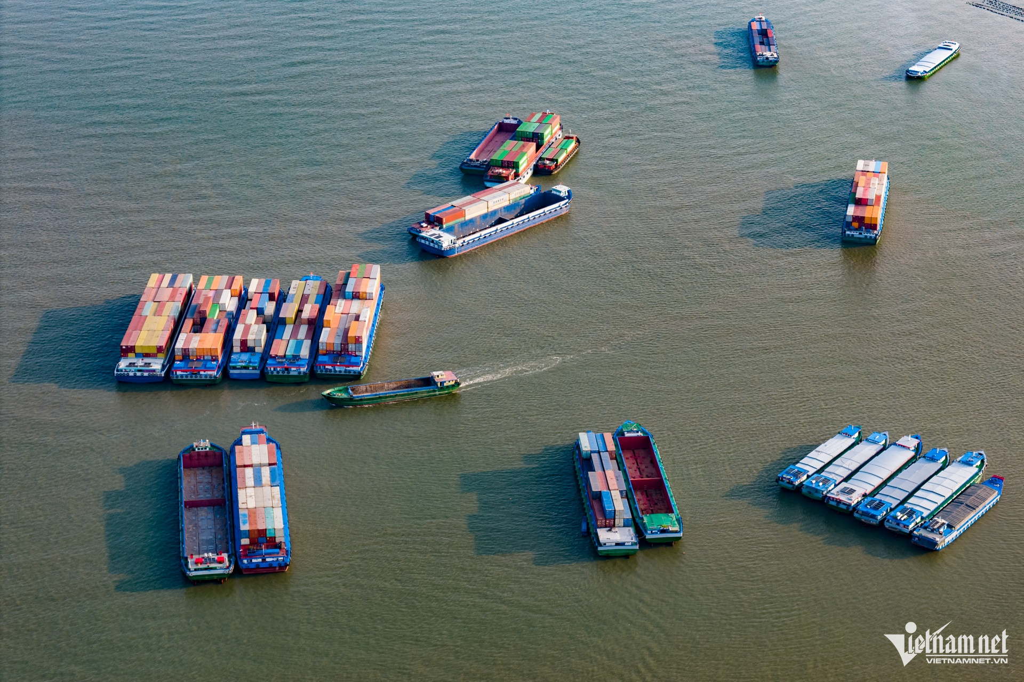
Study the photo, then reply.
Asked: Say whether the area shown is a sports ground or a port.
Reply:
port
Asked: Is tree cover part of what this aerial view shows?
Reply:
No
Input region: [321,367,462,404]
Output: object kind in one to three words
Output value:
boat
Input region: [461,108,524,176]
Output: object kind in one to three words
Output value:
ship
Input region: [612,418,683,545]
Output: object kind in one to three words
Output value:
ship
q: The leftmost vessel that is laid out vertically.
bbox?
[177,432,237,587]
